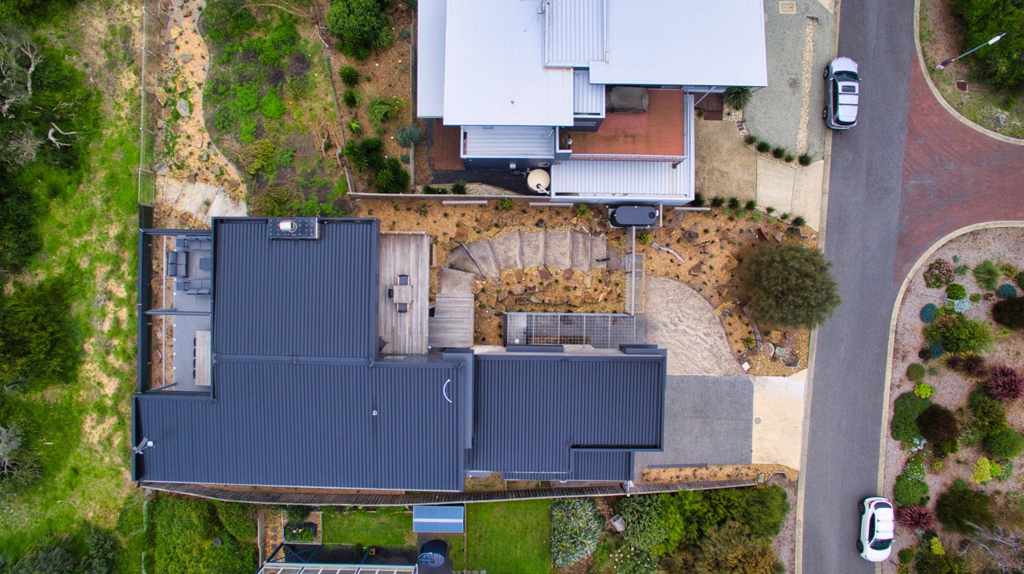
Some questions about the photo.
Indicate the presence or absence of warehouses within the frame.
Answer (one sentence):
No, no warehouse is visible in the view.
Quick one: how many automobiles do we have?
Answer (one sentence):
In total, there are 2 automobiles in the scene.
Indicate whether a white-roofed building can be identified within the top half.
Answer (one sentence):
Yes, there is a white-roofed building within the top half.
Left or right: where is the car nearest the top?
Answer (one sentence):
You can find the car nearest the top on the right side of the picture.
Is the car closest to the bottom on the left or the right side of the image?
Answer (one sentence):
The car closest to the bottom sits on the right side.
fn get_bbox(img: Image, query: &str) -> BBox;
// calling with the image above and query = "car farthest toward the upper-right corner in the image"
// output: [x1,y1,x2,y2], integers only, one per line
[824,57,864,134]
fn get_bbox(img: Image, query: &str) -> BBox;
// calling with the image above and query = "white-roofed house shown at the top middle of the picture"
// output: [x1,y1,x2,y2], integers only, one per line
[417,0,767,205]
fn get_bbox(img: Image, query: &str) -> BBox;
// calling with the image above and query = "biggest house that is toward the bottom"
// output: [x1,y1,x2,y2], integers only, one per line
[132,217,666,492]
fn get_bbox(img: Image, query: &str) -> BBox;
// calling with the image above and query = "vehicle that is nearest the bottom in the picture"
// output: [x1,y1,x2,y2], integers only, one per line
[858,498,897,562]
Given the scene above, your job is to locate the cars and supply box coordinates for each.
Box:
[858,498,897,562]
[824,57,864,134]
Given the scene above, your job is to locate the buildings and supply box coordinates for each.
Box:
[413,498,464,533]
[417,0,767,205]
[132,217,666,492]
